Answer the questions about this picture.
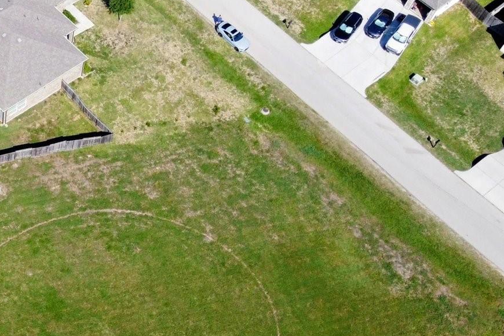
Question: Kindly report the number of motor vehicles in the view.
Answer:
4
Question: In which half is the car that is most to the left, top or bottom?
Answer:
top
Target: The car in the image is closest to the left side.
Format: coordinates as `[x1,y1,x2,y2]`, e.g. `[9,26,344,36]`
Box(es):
[214,17,251,52]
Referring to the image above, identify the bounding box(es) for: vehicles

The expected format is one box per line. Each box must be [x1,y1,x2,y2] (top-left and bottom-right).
[364,6,396,39]
[384,13,424,54]
[214,17,251,52]
[331,8,366,44]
